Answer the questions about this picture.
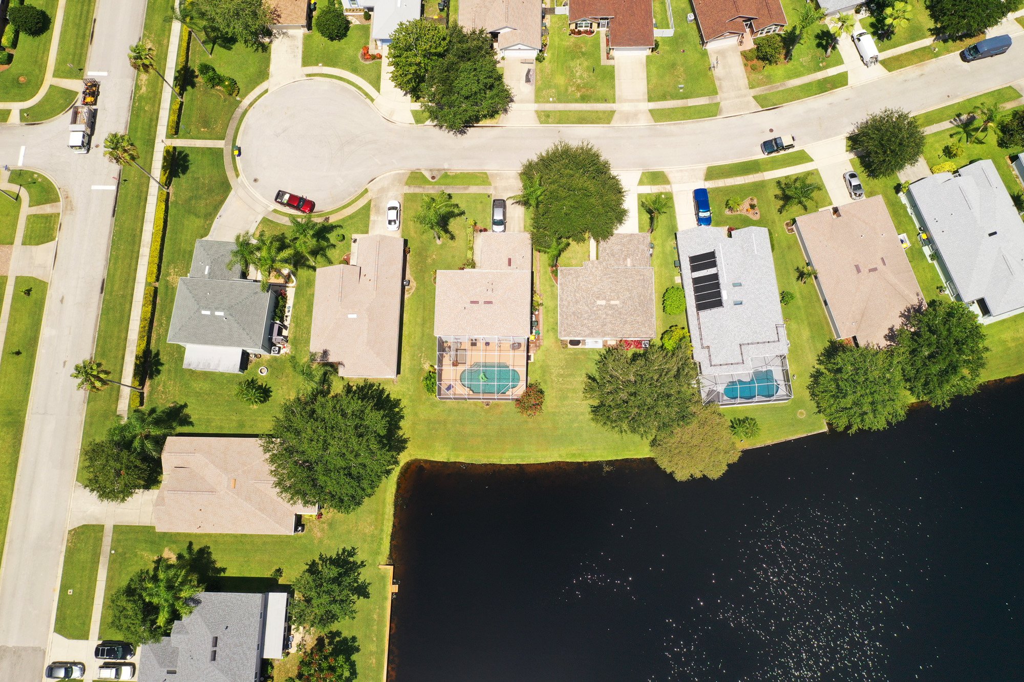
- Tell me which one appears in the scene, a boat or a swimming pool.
swimming pool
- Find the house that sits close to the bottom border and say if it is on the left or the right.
left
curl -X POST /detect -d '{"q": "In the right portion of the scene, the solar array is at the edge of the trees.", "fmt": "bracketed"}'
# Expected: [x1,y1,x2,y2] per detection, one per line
[689,249,785,366]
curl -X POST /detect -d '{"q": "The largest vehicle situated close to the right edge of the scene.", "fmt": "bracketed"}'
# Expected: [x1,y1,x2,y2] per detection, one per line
[960,30,1020,60]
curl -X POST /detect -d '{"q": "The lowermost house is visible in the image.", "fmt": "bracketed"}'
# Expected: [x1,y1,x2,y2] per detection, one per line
[139,592,272,682]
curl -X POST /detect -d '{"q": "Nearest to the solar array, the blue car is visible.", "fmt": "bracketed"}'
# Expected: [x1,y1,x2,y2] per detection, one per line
[695,185,713,225]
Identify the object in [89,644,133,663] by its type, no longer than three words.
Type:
car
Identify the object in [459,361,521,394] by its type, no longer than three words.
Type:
swimming pool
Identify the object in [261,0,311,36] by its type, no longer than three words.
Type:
house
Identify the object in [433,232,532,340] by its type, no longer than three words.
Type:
house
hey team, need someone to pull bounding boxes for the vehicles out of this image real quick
[271,187,314,212]
[65,99,91,153]
[846,167,867,198]
[490,196,506,232]
[960,30,1020,60]
[855,25,885,63]
[695,185,713,225]
[761,130,798,152]
[89,644,133,663]
[385,198,399,229]
[40,663,83,682]
[92,664,133,682]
